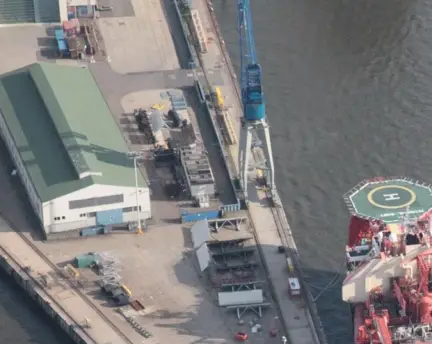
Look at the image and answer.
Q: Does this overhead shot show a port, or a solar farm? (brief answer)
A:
port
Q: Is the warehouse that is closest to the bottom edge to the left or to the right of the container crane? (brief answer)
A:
on its left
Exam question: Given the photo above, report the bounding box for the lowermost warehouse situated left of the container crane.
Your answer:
[0,54,152,239]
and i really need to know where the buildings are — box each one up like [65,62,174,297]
[0,0,71,26]
[0,54,152,239]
